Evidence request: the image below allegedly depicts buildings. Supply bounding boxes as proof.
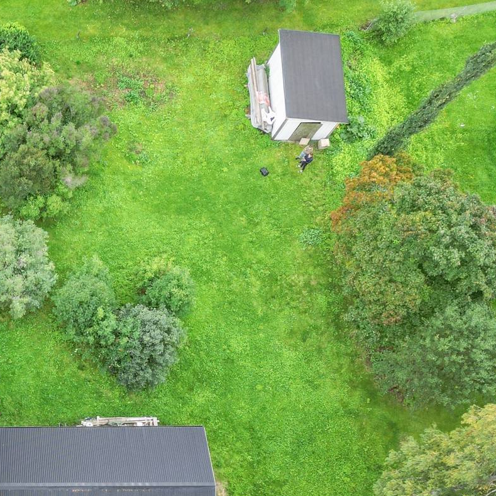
[0,424,217,496]
[270,27,352,141]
